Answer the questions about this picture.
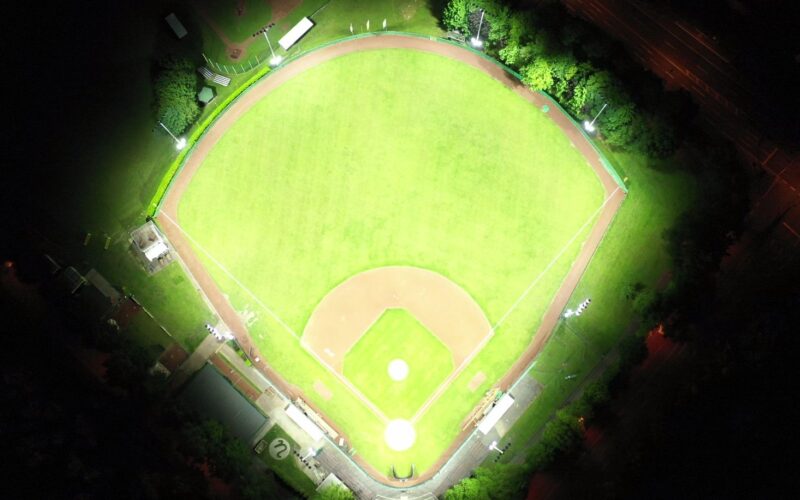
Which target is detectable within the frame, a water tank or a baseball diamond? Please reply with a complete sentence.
It is a baseball diamond that can be seen here.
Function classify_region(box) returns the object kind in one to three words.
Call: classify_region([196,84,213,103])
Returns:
gazebo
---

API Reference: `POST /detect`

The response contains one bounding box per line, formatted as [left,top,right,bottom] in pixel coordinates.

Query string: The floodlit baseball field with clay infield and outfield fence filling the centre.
[155,33,627,487]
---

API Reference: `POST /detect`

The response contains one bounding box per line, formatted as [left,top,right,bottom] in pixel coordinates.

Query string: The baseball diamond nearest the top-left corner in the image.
[195,0,304,62]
